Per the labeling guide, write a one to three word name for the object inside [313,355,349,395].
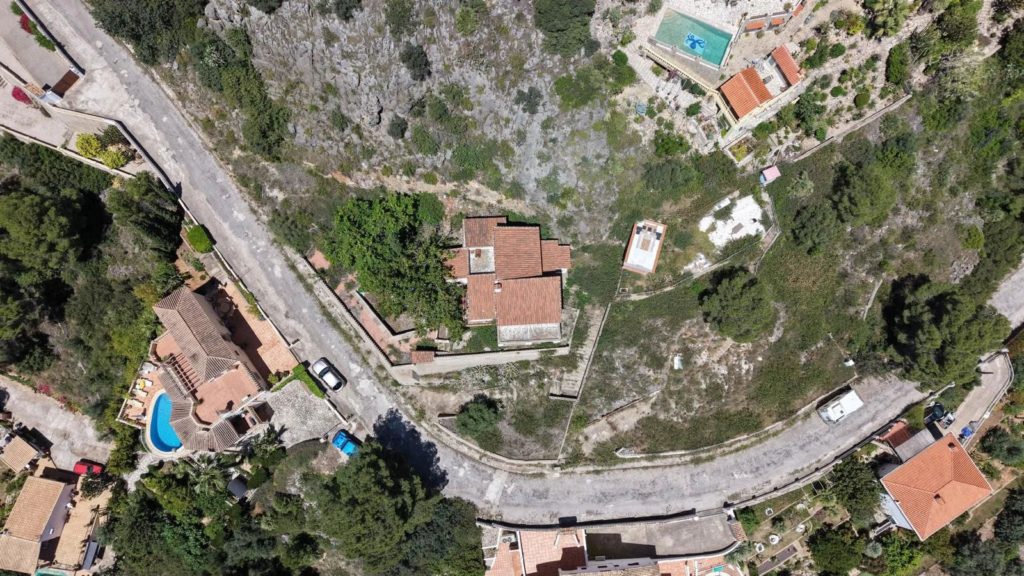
car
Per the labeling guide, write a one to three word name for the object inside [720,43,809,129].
house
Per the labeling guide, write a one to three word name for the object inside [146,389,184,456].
swimming pool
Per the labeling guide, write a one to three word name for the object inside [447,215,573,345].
house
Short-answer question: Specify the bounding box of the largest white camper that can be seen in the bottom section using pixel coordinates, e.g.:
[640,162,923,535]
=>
[807,384,867,424]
